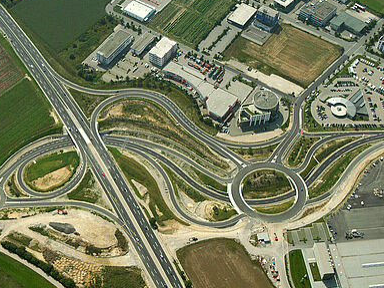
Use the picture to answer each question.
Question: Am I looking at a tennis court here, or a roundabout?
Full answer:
Visible in the photo is a roundabout.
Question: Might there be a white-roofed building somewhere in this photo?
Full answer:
Yes, the picture does show a white-roofed building.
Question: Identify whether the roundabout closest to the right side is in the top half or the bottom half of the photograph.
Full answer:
Seen from above, the roundabout closest to the right side lies in the bottom half of the view.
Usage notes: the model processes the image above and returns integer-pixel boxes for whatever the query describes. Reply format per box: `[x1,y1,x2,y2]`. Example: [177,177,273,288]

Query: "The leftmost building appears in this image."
[97,30,133,63]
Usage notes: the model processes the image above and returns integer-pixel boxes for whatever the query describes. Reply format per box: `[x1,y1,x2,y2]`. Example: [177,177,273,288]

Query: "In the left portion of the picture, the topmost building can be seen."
[124,0,151,21]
